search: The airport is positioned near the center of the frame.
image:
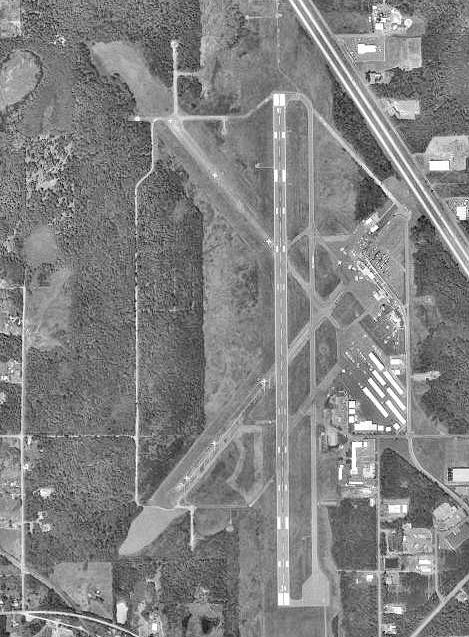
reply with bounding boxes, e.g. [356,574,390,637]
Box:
[144,91,406,608]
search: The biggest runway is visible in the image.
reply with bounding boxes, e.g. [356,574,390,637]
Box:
[273,94,289,606]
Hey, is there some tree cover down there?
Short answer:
Yes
